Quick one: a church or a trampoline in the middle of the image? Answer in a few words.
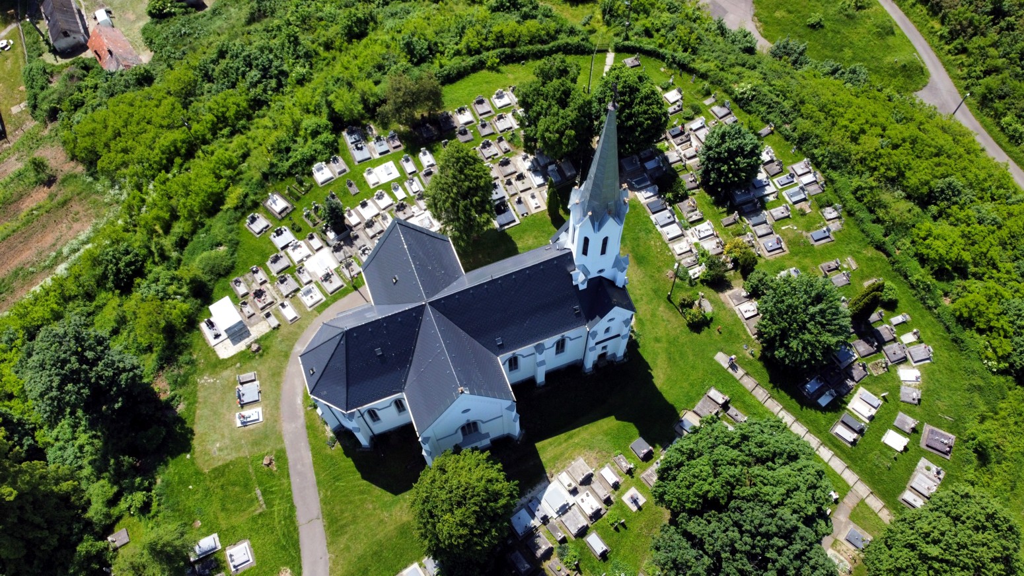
church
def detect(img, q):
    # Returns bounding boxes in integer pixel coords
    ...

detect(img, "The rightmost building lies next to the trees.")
[299,74,640,474]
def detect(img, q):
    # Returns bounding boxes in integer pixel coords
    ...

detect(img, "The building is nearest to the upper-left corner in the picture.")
[38,0,91,58]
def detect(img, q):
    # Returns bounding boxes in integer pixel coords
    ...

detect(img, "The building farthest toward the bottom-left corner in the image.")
[209,296,249,339]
